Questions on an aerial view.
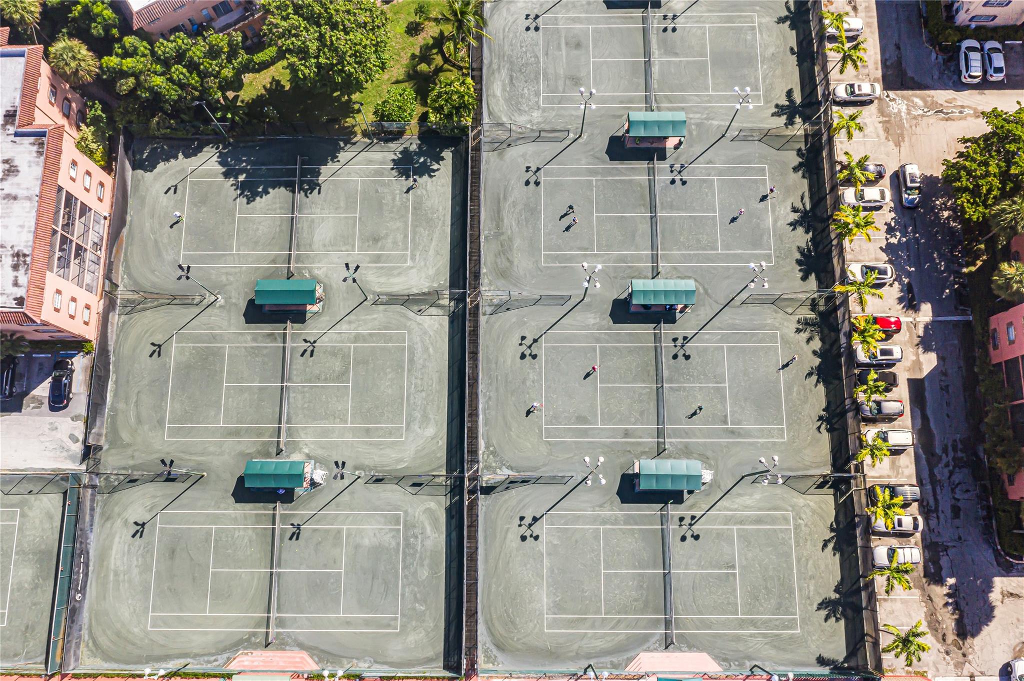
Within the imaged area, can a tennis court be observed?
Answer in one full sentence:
Yes, you can see a tennis court in this photo.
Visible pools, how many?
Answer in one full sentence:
There are no pools in this view.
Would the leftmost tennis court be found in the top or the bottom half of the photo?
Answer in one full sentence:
The leftmost tennis court is in the bottom half of the image.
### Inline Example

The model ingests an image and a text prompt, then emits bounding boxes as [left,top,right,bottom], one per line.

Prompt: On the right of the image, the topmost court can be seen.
[483,0,823,136]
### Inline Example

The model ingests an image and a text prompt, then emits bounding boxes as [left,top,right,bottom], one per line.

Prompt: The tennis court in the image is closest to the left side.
[0,477,70,668]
